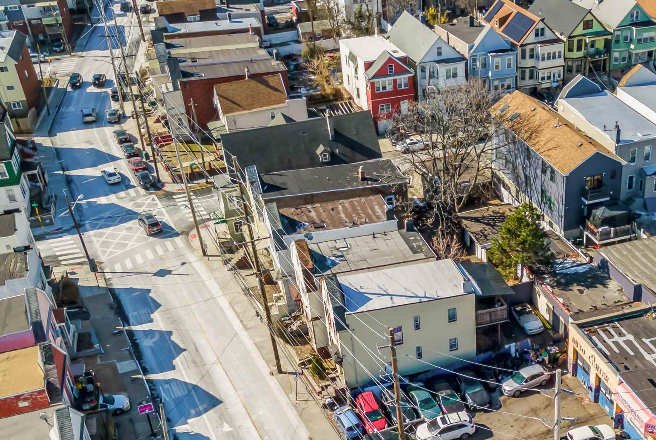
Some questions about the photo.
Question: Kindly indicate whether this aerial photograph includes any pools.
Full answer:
No, there's no pool here.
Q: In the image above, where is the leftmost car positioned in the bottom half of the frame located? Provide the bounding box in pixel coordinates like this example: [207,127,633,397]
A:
[56,303,104,329]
